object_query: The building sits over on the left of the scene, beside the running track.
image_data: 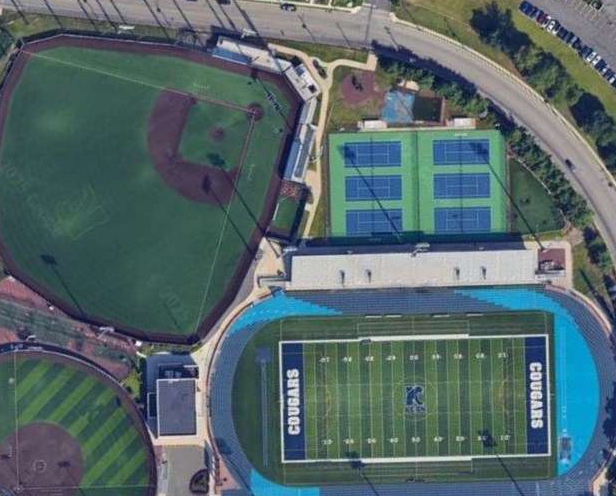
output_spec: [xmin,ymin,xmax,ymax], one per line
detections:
[147,364,199,438]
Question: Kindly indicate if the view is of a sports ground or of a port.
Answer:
sports ground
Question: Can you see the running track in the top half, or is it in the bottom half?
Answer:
bottom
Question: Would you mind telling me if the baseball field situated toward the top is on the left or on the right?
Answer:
left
